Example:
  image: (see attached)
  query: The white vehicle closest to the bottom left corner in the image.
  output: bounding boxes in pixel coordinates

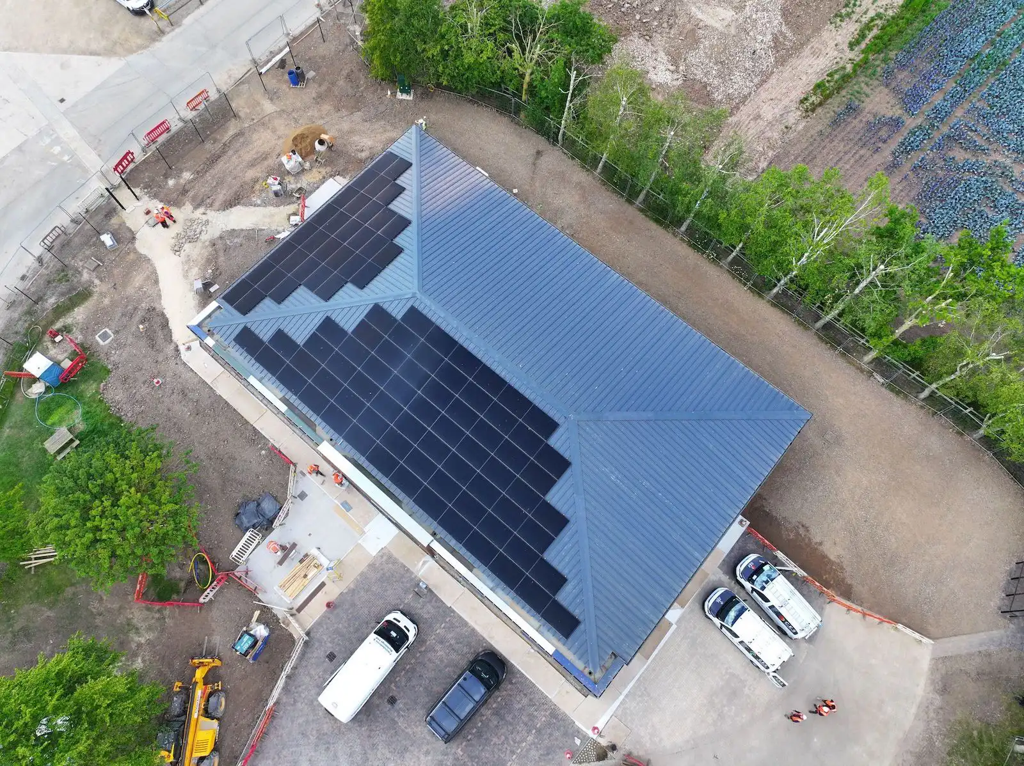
[319,609,422,724]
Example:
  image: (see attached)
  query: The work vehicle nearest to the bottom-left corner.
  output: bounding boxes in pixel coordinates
[146,637,224,766]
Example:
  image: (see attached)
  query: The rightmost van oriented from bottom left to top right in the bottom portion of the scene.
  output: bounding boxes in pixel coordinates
[425,648,511,743]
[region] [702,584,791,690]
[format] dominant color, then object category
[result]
white van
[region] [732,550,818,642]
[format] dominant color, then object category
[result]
white van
